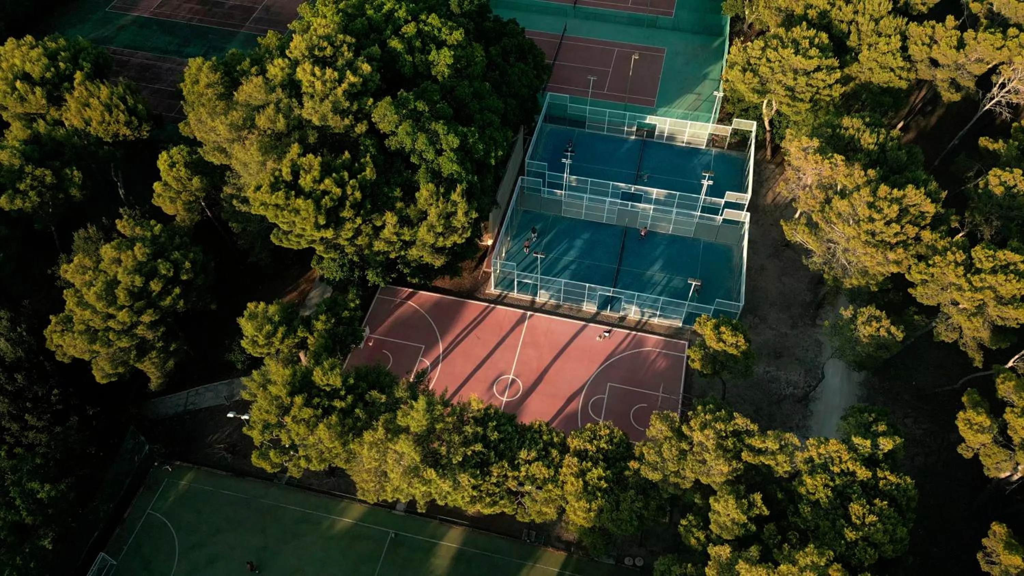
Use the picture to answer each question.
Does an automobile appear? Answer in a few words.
No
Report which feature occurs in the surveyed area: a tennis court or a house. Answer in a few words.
tennis court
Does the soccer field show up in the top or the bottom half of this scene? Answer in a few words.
bottom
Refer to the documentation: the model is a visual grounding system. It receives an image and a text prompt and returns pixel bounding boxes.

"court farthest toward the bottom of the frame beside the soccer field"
[345,284,689,515]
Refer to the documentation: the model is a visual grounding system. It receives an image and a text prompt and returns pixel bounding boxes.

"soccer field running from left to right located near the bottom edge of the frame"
[87,460,644,576]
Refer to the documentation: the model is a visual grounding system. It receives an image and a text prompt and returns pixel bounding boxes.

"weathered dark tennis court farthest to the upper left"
[27,0,349,58]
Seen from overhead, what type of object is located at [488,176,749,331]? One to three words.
sports court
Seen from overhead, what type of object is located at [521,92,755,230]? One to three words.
sports court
